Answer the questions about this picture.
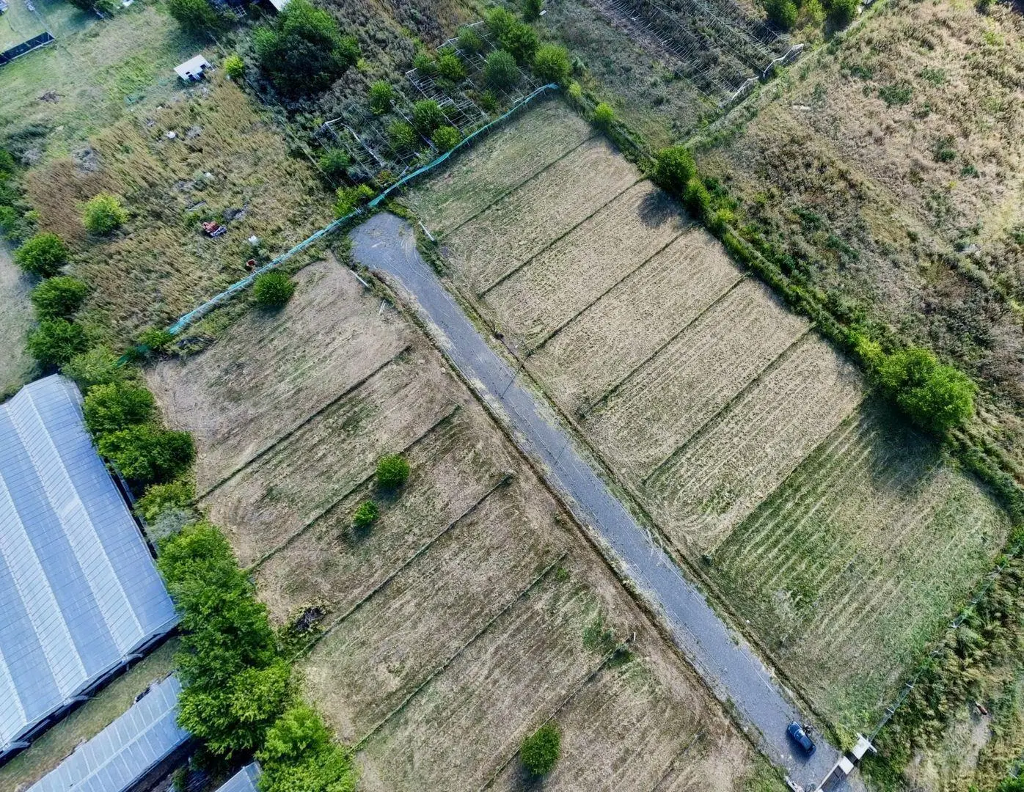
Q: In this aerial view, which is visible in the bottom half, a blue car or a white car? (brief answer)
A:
blue car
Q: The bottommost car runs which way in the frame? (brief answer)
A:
diagonally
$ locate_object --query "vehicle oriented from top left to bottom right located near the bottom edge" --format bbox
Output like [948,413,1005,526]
[784,718,819,759]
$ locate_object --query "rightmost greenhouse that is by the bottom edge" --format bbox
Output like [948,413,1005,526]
[214,762,267,792]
